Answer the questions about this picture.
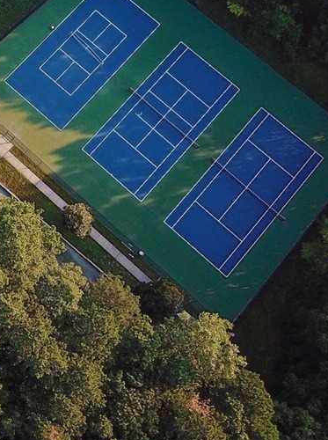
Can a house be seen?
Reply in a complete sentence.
No, the picture doesn't show any house.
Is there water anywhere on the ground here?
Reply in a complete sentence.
No, the scene doesn't show any water.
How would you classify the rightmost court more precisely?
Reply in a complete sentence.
The rightmost court appears to be a tennis court.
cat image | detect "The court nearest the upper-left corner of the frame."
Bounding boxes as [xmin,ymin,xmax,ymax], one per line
[7,0,162,130]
